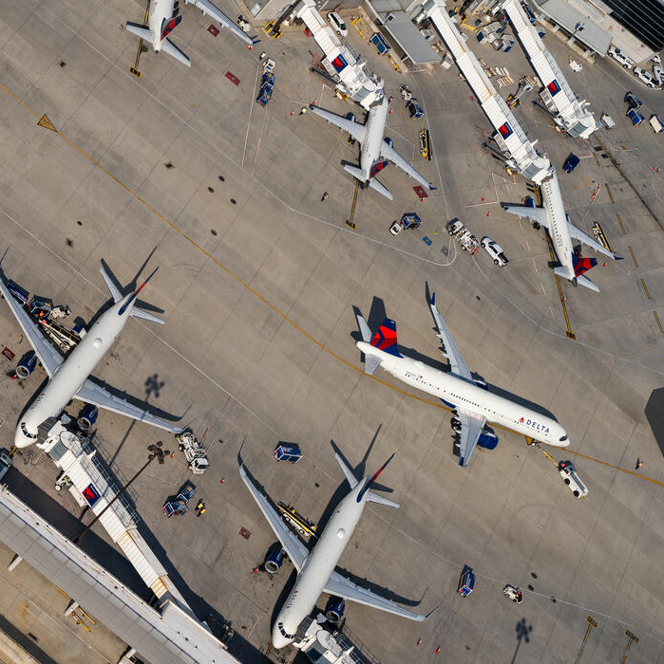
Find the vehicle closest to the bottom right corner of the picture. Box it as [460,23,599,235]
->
[503,583,523,603]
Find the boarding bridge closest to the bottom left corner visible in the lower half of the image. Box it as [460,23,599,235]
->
[38,419,217,630]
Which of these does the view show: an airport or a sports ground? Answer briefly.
airport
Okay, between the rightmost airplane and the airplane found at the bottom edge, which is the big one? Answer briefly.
the airplane found at the bottom edge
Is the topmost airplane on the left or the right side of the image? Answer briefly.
left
